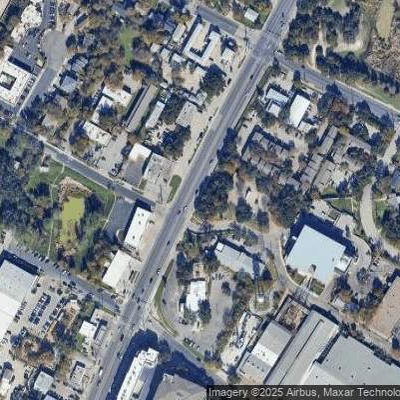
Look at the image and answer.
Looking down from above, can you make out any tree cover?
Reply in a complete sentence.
Yes, some tree cover is visible.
